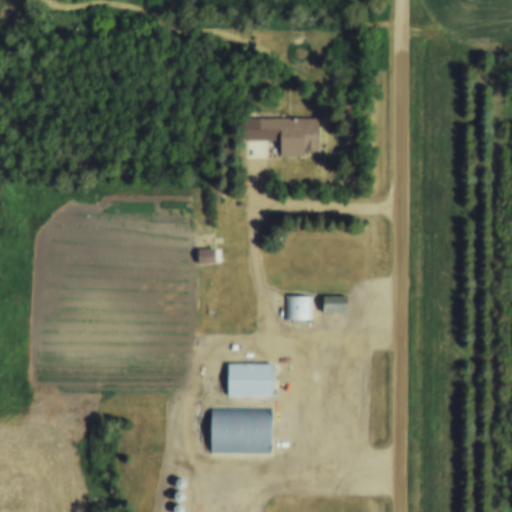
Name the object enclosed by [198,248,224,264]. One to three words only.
shed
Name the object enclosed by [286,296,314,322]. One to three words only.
shed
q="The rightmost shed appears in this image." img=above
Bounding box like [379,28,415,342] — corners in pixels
[324,296,349,314]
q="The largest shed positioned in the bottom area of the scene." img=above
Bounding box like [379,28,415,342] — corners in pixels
[212,408,272,453]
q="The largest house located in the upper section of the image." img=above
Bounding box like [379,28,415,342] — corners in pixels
[246,118,320,158]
